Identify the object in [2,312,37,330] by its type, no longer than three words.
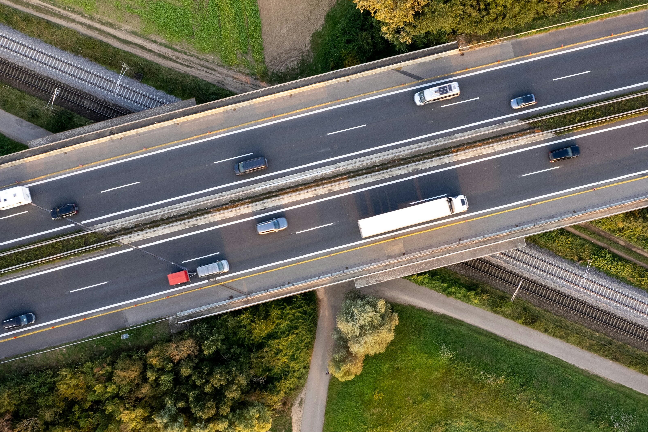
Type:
car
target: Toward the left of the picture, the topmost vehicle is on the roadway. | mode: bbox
[233,157,268,175]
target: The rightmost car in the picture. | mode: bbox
[546,145,580,163]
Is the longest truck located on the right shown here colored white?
Yes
